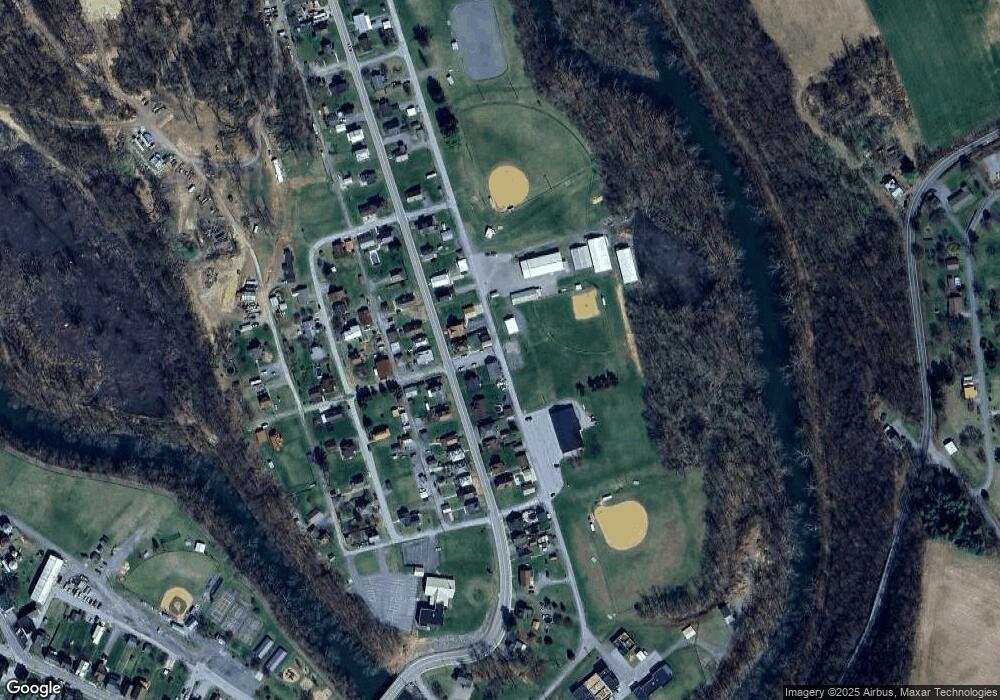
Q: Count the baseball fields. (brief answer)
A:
four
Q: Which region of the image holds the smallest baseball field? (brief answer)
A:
center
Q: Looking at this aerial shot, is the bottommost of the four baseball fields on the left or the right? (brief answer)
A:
left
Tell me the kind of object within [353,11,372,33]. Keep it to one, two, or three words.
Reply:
house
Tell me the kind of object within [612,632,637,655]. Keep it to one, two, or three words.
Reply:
building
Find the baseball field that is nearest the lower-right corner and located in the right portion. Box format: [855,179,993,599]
[588,474,702,604]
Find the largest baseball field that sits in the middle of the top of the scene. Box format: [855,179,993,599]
[462,103,593,215]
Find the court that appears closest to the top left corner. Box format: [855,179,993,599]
[450,0,508,81]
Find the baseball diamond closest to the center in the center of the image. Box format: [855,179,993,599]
[549,287,612,351]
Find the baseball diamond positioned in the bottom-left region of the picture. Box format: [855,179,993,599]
[122,551,220,625]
